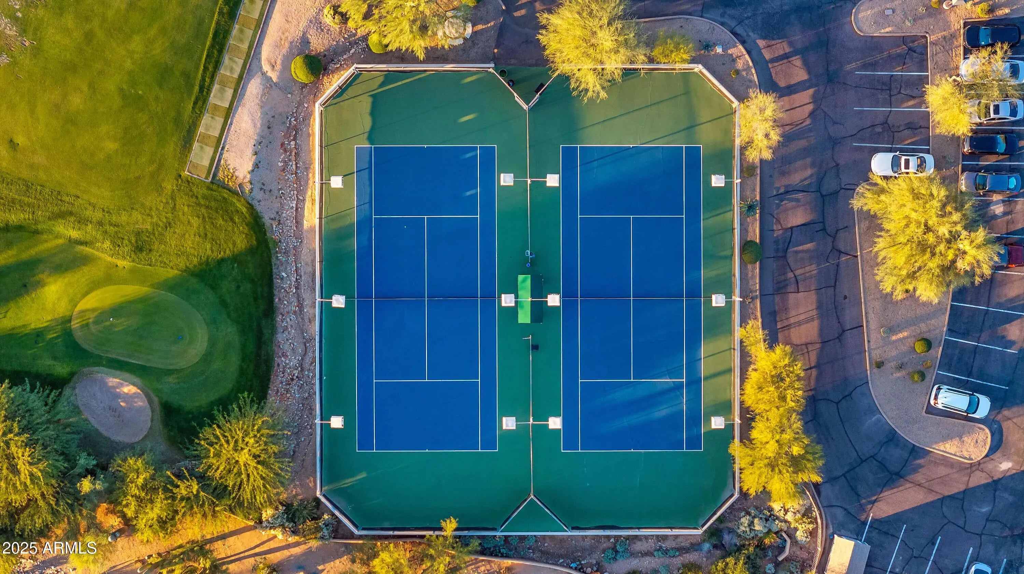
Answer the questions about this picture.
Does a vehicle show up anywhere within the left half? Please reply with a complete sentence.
No, there is no vehicle within the left half.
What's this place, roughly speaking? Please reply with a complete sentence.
The area seen from above is a sports ground.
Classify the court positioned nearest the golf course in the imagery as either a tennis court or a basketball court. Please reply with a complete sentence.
From above, the court positioned nearest the golf course can be identified as a tennis court.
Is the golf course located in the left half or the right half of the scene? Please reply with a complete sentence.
The golf course is on the left side of the image.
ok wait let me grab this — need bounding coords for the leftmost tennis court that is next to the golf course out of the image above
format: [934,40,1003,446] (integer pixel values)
[319,66,529,529]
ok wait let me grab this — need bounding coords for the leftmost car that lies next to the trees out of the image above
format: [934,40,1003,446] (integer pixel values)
[868,150,933,179]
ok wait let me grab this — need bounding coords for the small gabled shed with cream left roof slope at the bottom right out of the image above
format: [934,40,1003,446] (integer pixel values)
[821,534,871,574]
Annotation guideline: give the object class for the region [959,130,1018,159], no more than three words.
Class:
car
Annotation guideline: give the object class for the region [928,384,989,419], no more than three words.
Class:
car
